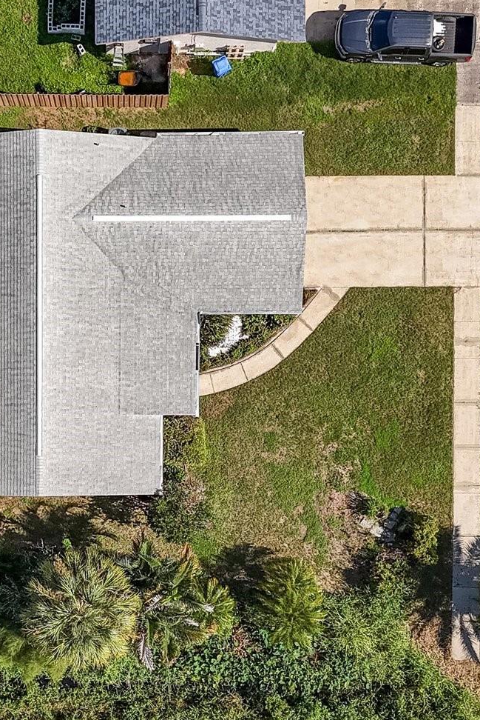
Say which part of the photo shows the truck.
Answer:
top right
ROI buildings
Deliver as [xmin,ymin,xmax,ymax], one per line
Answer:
[0,126,309,499]
[94,0,307,53]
